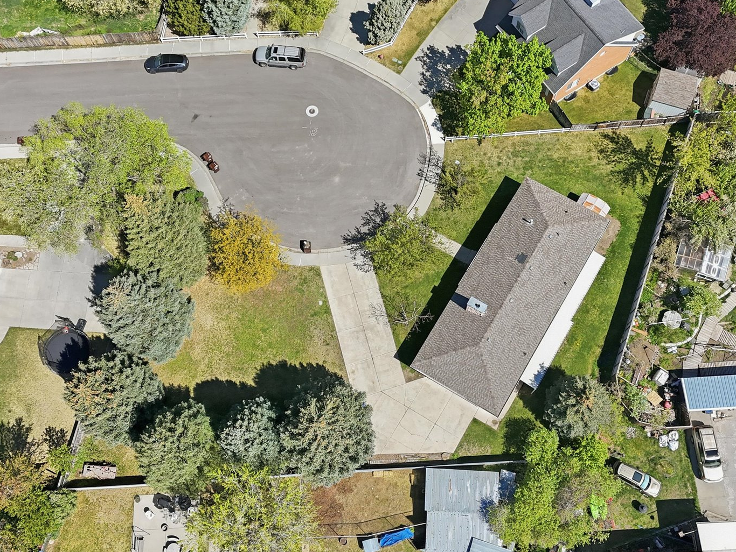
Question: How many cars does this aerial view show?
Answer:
4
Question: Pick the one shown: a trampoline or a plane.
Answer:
trampoline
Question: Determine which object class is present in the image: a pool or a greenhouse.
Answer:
greenhouse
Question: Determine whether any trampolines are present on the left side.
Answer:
Yes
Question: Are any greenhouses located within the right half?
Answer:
Yes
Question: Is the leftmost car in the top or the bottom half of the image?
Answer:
top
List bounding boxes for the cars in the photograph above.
[141,49,188,72]
[251,42,306,69]
[692,426,725,483]
[609,456,662,500]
